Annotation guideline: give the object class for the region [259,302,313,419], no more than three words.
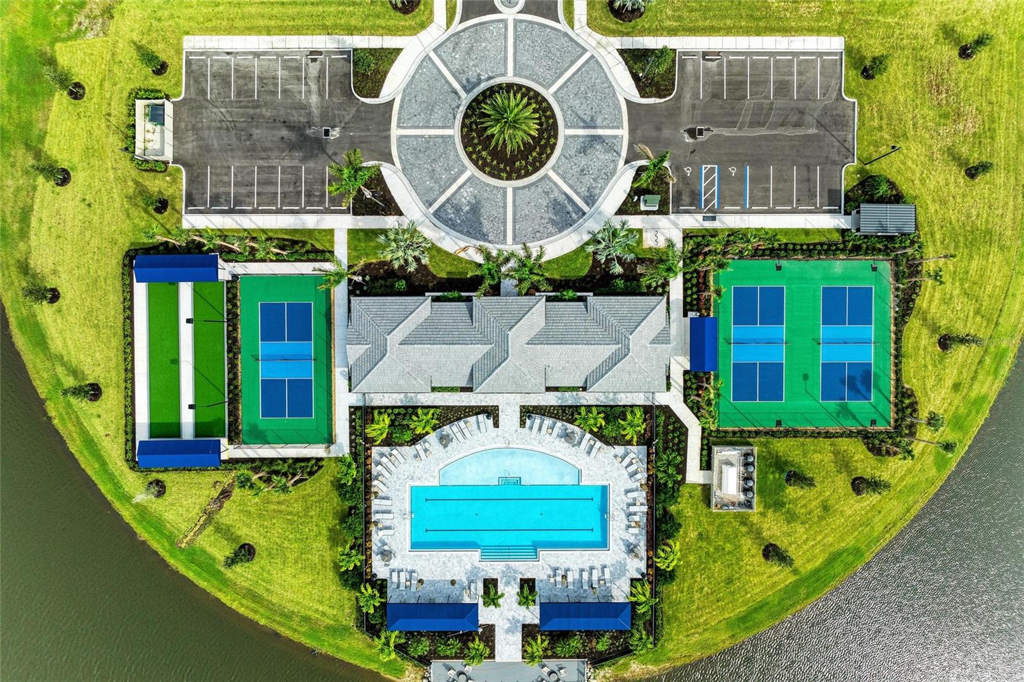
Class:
sports court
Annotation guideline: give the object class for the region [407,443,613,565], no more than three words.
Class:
swimming pool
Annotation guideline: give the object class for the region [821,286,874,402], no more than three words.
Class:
sports court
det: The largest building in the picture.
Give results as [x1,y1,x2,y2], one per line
[344,295,673,394]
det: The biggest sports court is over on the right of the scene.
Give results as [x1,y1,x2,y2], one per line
[713,260,892,427]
